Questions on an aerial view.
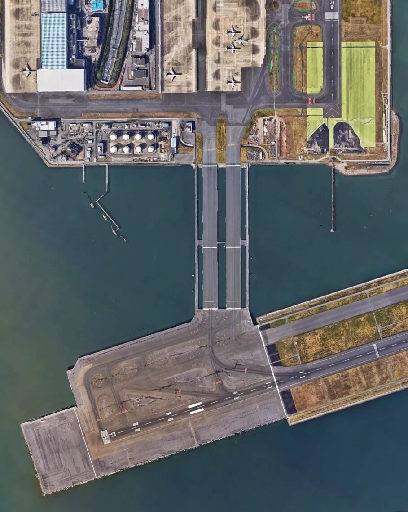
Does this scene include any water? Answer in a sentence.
Yes, there's water in this view.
